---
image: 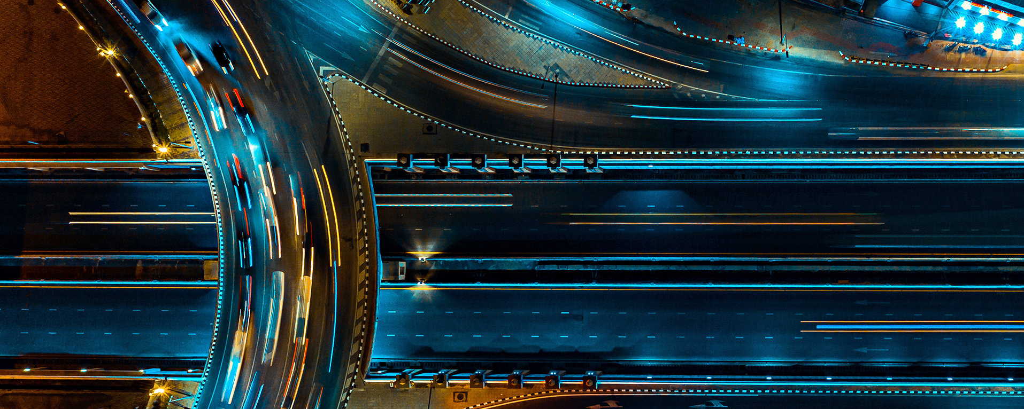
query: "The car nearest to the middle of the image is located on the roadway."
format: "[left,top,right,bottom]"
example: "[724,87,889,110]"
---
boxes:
[406,193,439,207]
